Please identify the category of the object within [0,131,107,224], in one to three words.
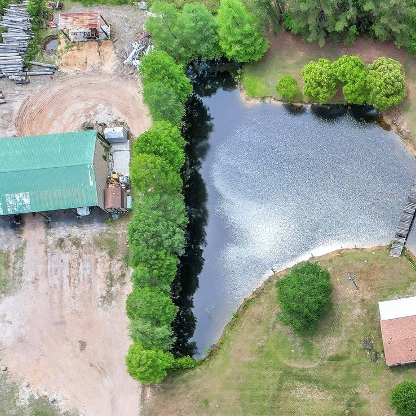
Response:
barn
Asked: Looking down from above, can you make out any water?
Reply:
Yes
